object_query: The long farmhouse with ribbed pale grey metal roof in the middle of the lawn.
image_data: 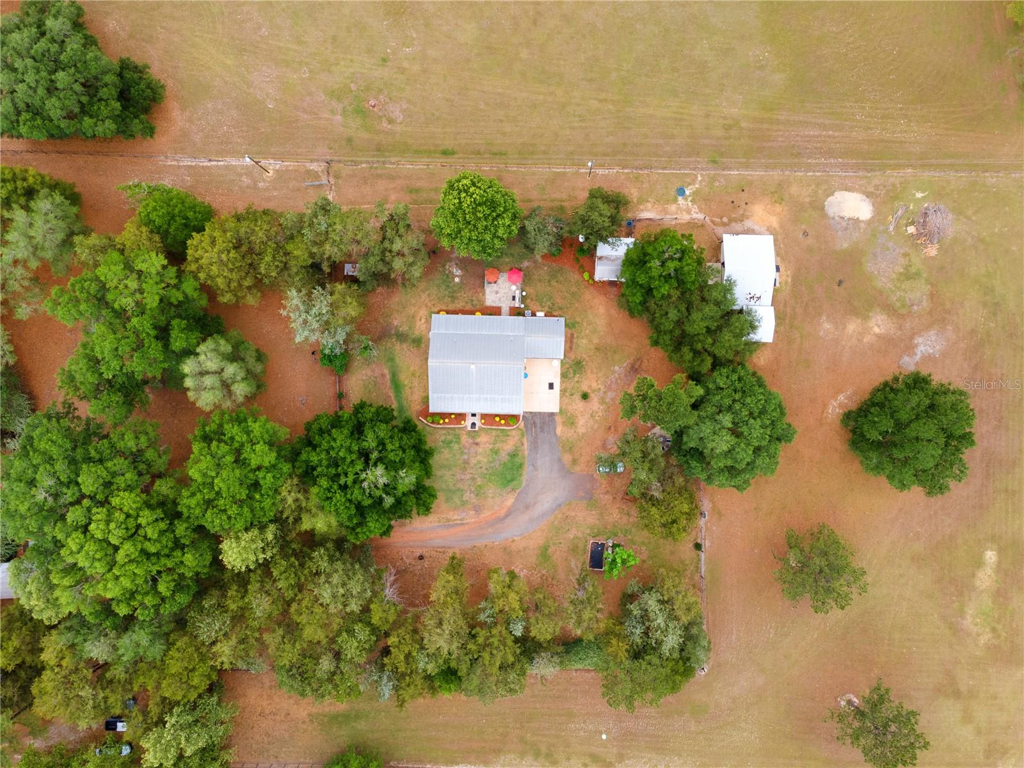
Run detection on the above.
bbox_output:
[428,313,566,415]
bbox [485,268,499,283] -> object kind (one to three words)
umbrella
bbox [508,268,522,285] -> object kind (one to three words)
umbrella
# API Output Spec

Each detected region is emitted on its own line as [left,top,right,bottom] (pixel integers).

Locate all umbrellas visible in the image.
[485,268,499,283]
[508,268,522,285]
